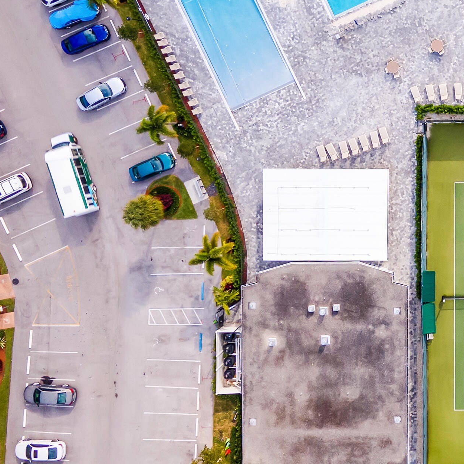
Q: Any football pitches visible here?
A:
No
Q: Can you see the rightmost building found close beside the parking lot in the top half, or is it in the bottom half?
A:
bottom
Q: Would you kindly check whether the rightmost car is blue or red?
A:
blue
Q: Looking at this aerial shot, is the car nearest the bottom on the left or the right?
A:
left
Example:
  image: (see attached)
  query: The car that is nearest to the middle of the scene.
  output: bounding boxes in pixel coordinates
[128,152,177,183]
